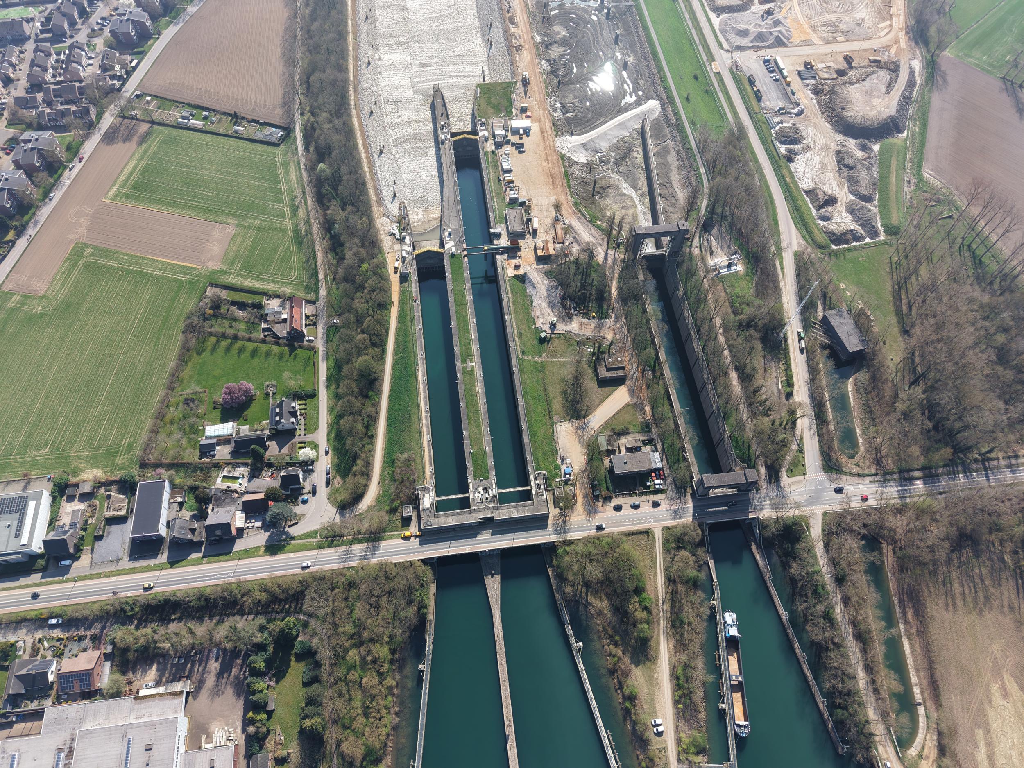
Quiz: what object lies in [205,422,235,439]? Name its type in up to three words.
greenhouse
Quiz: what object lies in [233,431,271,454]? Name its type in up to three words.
barn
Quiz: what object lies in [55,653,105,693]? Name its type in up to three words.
house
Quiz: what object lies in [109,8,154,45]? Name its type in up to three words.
building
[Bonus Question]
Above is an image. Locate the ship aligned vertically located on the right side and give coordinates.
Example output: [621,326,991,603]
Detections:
[725,611,757,738]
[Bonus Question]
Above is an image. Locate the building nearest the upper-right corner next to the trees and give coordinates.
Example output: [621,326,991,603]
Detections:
[819,307,869,364]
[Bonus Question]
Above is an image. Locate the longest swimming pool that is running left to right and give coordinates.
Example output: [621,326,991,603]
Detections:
[218,473,241,485]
